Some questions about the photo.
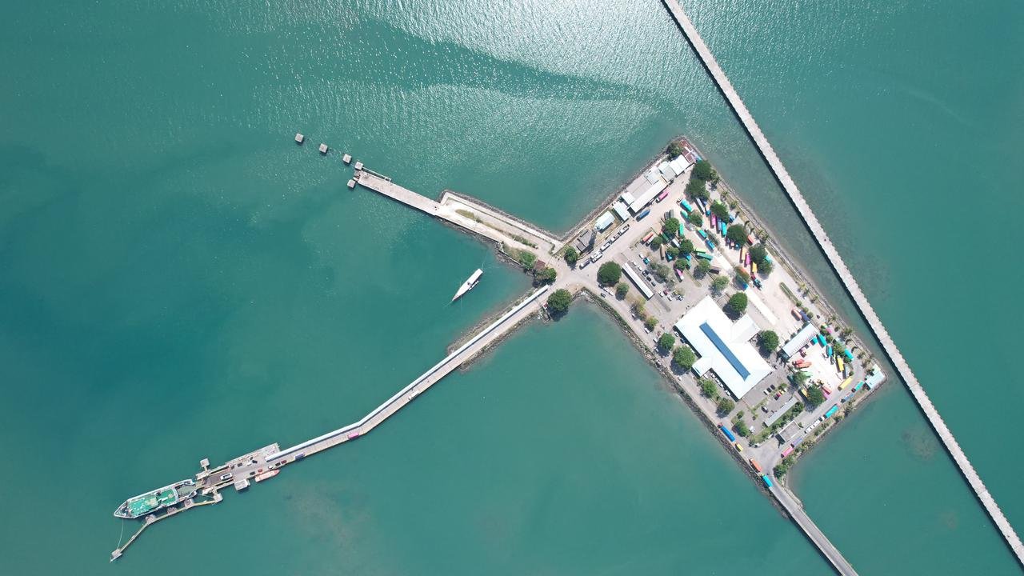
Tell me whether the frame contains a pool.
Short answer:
No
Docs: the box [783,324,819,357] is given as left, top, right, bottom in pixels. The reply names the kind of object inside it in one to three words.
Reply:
shed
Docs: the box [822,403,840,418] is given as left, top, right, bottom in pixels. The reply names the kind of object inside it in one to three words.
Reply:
vehicle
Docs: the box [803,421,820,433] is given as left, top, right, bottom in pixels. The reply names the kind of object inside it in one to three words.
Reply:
vehicle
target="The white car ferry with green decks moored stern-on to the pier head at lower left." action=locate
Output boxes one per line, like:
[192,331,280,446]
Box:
[115,478,199,518]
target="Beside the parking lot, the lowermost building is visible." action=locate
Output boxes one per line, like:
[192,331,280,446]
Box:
[675,295,773,399]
